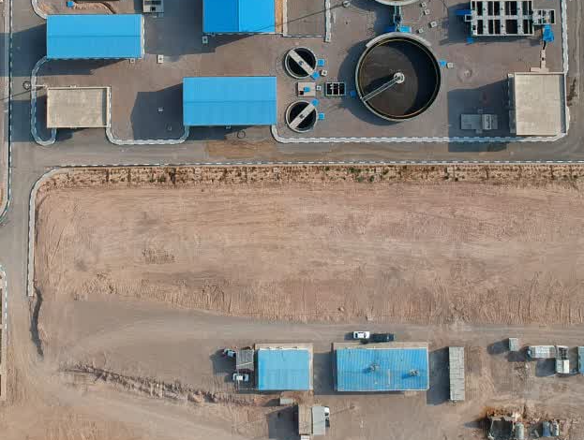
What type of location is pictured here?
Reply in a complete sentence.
This looks like an industrial area.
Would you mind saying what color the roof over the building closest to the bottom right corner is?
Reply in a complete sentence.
The roof over the building closest to the bottom right corner appears blue.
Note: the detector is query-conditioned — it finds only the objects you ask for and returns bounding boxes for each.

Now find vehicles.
[371,332,392,342]
[222,346,236,357]
[554,343,568,373]
[527,344,557,357]
[352,330,370,339]
[232,372,249,380]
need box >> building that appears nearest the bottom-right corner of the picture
[332,342,428,391]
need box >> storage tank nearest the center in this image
[284,99,317,132]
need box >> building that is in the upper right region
[504,73,565,136]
